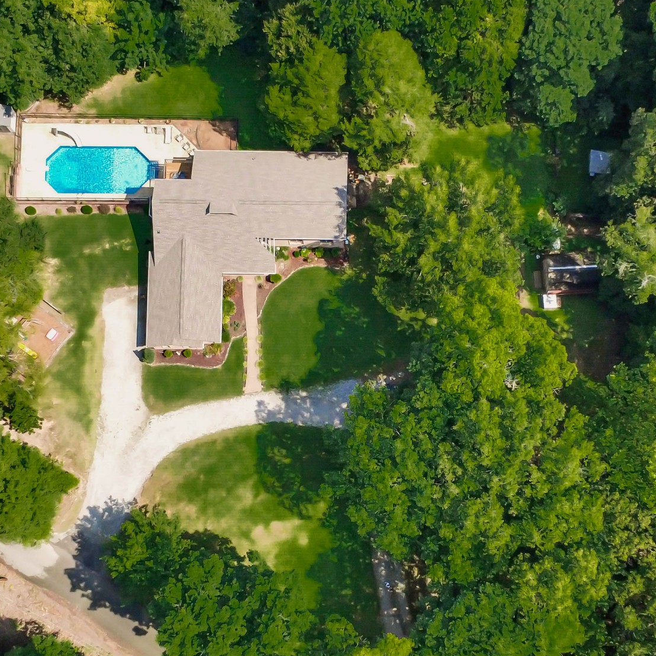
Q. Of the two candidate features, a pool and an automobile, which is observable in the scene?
pool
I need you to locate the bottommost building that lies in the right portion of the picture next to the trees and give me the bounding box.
[536,250,601,298]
